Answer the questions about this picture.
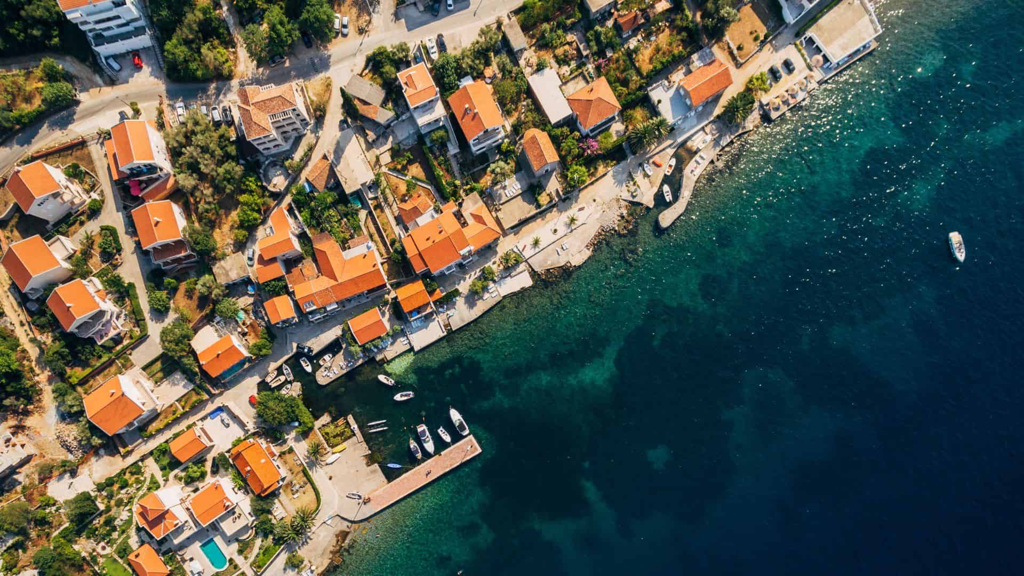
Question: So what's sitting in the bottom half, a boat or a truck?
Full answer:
What appears in the bottom half is a boat.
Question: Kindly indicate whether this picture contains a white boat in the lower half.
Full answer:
Yes, you'll find a white boat in the lower half.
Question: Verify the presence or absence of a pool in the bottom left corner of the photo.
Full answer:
Yes, a pool appears in the bottom left corner of the photo.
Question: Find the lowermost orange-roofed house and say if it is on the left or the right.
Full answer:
You can find the lowermost orange-roofed house on the left side of the picture.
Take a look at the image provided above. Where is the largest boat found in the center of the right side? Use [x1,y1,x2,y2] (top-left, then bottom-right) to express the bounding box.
[948,231,966,262]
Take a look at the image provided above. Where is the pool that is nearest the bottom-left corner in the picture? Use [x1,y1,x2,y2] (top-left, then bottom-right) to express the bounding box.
[196,535,228,572]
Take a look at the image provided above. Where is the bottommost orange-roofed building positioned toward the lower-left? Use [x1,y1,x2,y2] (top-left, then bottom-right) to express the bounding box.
[127,542,175,576]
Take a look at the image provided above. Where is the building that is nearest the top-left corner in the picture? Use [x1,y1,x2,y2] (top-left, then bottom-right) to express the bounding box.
[59,0,159,56]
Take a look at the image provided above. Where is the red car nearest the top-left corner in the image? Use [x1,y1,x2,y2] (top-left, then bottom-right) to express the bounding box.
[131,52,144,69]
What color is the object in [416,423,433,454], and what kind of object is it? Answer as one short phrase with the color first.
white boat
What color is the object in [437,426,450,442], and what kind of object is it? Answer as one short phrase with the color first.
white boat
